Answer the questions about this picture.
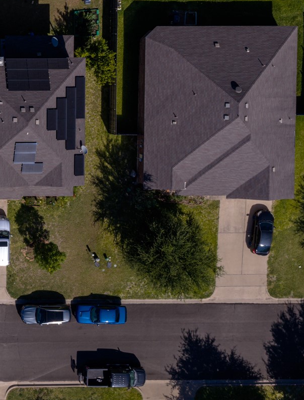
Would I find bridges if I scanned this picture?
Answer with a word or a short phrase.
No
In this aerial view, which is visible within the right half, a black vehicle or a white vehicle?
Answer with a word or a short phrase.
black vehicle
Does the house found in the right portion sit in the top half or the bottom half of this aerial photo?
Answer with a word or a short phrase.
top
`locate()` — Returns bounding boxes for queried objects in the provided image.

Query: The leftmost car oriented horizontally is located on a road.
[20,304,71,329]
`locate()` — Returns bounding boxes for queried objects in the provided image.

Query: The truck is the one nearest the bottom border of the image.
[85,364,149,390]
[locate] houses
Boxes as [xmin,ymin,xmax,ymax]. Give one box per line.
[0,34,90,199]
[137,25,298,201]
